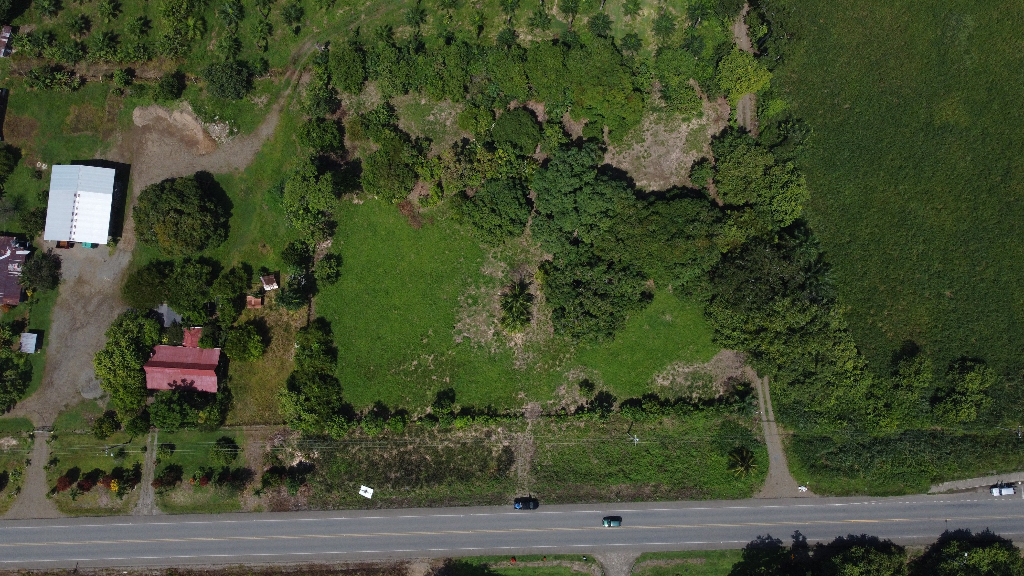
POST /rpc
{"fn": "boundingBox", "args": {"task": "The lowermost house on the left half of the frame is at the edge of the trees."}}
[143,344,223,392]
